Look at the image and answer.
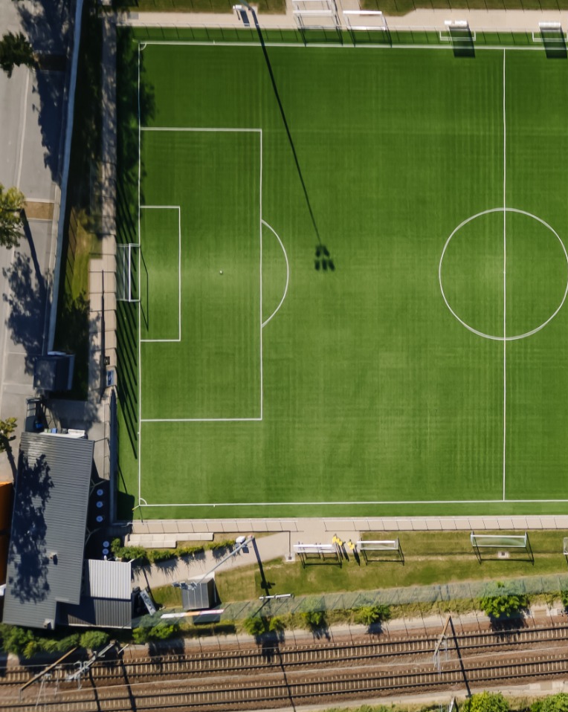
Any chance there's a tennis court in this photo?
No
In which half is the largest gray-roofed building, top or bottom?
bottom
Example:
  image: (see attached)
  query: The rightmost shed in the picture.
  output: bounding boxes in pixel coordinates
[184,576,214,610]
